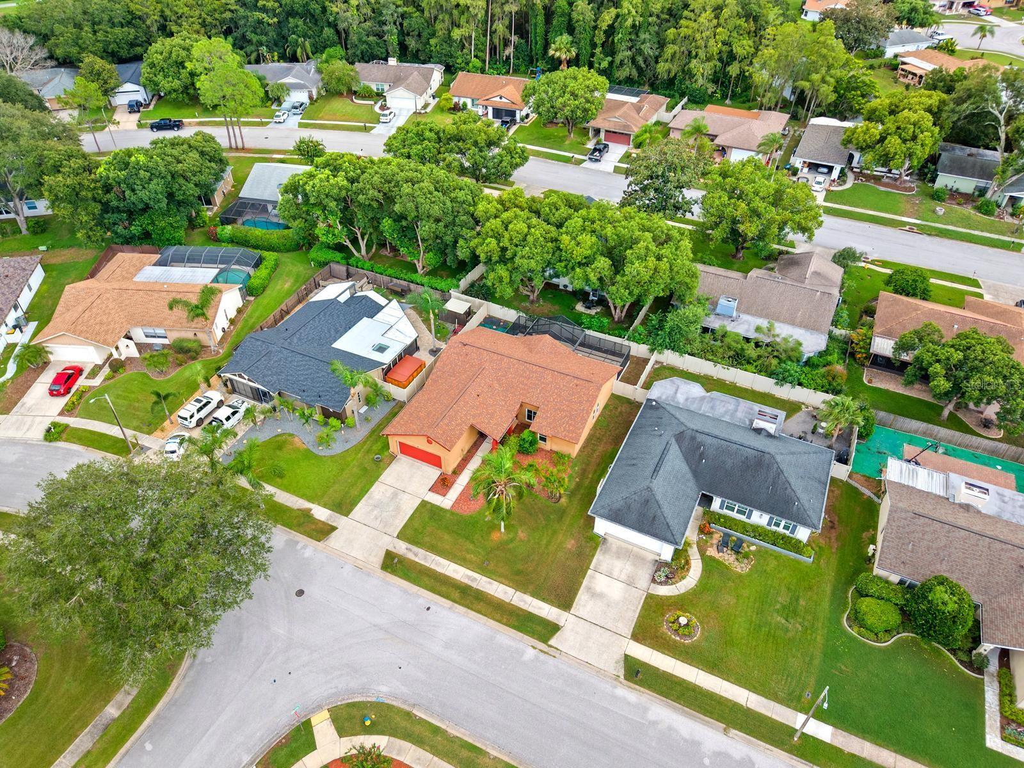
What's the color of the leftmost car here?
red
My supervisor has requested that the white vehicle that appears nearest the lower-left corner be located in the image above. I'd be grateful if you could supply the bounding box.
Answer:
[154,427,193,465]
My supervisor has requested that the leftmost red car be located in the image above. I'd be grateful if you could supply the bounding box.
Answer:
[46,366,81,397]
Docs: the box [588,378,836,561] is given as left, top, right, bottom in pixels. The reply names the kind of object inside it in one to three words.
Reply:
house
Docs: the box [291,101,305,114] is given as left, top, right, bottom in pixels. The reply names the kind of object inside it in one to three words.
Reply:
vehicle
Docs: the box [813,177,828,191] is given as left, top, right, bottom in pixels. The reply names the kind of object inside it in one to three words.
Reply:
car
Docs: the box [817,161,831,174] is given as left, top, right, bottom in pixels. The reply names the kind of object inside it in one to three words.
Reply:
vehicle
